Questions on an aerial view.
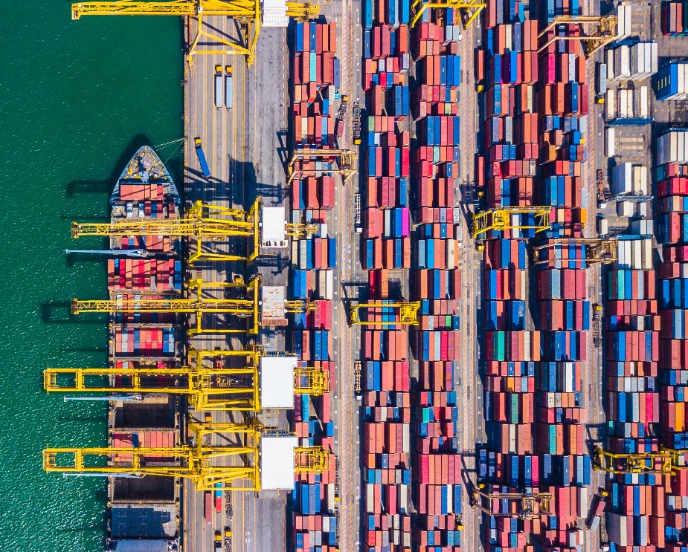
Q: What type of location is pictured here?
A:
port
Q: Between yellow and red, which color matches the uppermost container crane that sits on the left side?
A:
yellow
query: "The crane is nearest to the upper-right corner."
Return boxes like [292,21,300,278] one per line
[536,10,619,57]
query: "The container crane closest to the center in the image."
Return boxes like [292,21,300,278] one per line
[349,301,423,330]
